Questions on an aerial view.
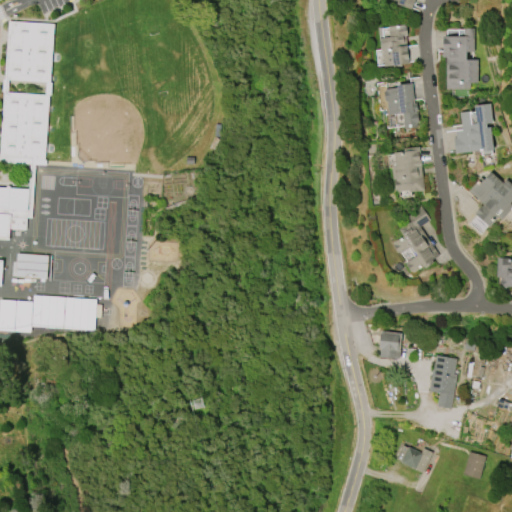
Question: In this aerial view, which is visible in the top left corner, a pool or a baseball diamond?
baseball diamond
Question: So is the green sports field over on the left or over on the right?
left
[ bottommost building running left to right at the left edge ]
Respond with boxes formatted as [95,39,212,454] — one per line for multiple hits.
[0,294,97,334]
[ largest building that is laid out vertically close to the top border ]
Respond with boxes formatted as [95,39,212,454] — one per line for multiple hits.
[0,20,56,166]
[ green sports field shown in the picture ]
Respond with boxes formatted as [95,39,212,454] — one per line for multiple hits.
[48,0,223,172]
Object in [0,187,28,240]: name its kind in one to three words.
building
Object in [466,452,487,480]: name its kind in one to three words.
barn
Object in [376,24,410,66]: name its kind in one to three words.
house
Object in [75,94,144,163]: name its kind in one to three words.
baseball field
